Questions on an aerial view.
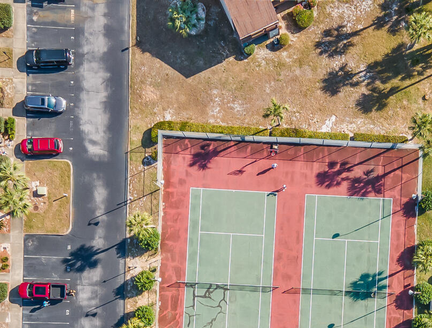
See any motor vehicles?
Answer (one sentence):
Yes, a motor vehicle can be made out from above.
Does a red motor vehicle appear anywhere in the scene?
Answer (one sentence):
Yes, a red motor vehicle is visible in the scene.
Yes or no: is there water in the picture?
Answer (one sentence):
No, no water is visible.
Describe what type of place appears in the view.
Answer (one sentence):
The area seen from above is a sports ground.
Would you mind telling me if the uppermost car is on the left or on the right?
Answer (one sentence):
It is on the left.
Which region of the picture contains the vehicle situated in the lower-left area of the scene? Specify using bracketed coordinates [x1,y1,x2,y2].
[19,281,69,300]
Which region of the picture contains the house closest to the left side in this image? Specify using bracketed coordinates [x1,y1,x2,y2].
[219,0,279,53]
